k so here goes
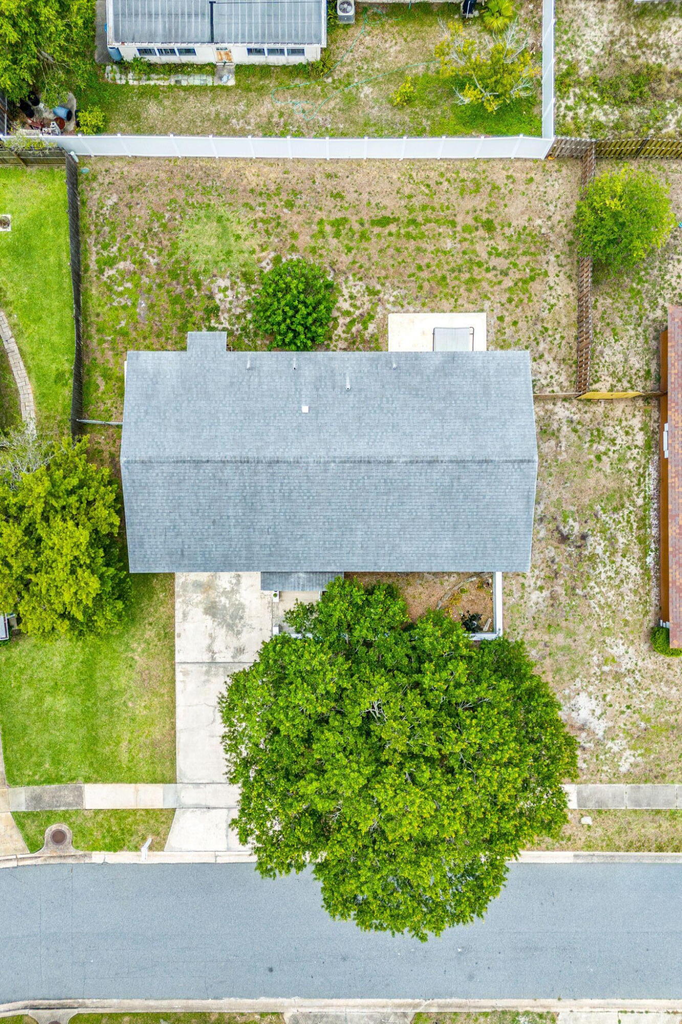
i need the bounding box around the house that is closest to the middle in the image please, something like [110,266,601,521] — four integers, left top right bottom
[120,331,538,591]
